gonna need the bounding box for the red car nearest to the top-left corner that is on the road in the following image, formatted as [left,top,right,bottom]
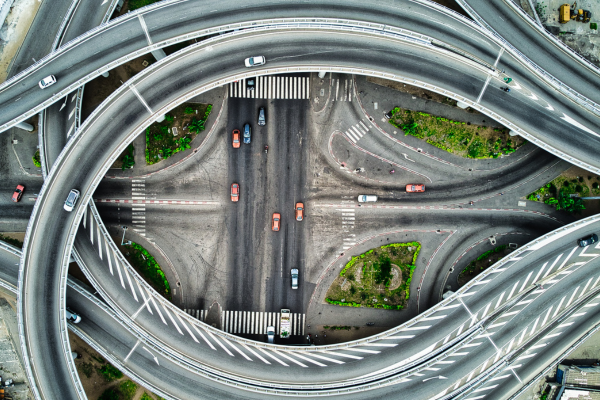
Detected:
[9,183,24,203]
